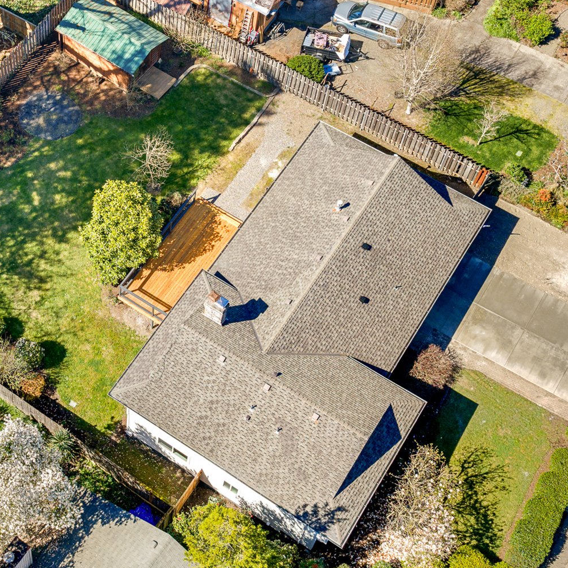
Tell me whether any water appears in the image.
No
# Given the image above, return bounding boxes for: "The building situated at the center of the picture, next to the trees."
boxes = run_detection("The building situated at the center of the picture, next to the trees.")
[105,121,496,552]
